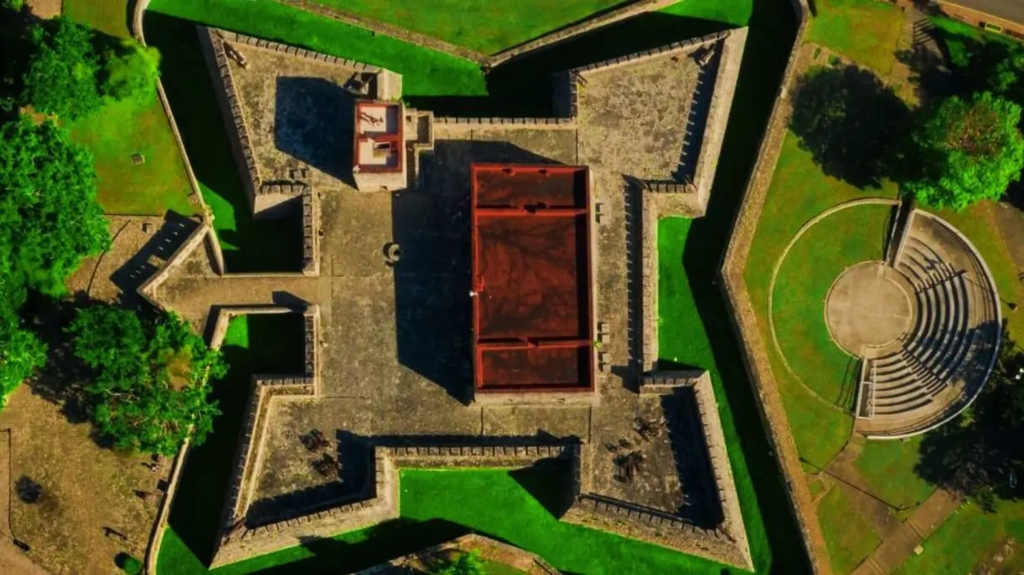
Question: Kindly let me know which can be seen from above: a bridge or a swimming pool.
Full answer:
Looking from above, you can make out a bridge.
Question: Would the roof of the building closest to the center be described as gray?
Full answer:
No, from above the roof of the building closest to the center looks red.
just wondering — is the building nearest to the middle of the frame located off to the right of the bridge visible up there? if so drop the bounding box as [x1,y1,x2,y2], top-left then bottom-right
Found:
[469,165,599,406]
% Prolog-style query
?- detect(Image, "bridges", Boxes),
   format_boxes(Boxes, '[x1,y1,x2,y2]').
[214,273,332,322]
